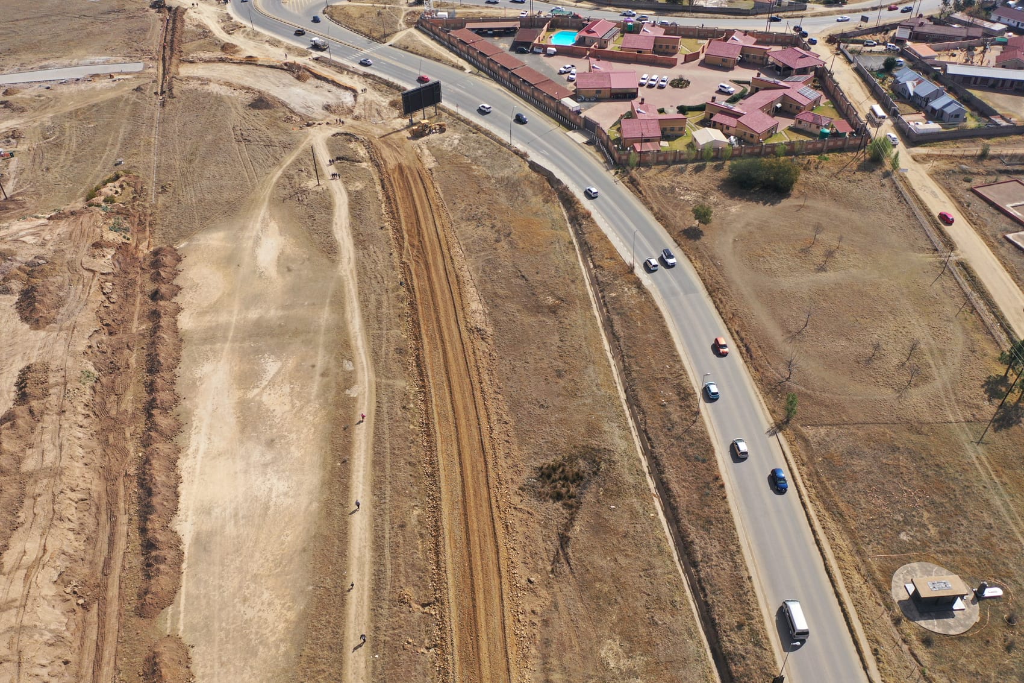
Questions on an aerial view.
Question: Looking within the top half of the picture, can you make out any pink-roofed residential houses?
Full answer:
Yes, you'll find a pink-roofed residential house within the top half of the picture.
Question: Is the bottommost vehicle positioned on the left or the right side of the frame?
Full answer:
You can find the bottommost vehicle on the right side of the picture.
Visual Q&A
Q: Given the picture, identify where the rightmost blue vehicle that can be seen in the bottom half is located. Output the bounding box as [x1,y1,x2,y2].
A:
[771,468,788,491]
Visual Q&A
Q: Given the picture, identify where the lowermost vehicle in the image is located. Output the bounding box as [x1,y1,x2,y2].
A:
[783,601,815,643]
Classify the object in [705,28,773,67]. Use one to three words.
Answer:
house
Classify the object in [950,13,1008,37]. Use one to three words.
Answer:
shed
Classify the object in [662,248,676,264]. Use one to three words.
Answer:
car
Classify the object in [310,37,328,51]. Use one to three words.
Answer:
vehicle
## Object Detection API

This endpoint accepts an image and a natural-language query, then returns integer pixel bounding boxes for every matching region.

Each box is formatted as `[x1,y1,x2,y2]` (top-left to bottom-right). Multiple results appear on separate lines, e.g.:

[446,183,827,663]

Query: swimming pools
[547,30,582,47]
